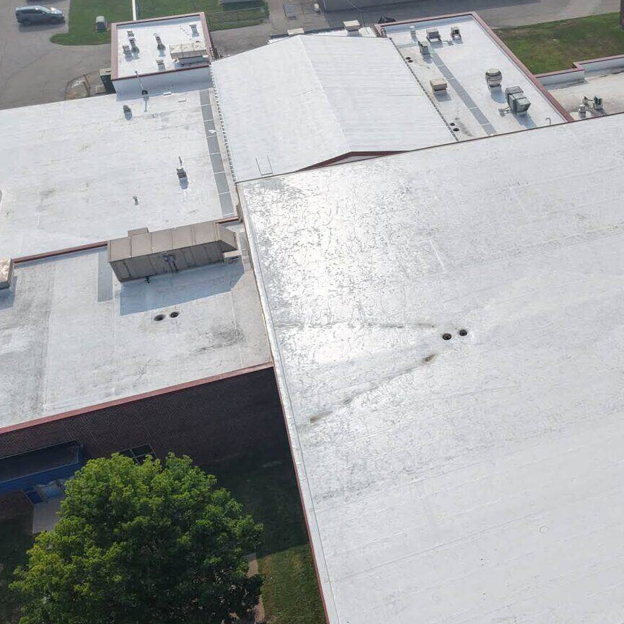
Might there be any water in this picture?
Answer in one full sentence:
No, there is no water in the image.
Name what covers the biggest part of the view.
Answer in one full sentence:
For the most part, this view shows buildings.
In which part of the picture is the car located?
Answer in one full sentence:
The car is located in the top left region of the scene.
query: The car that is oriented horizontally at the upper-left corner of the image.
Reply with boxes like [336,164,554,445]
[8,1,64,25]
